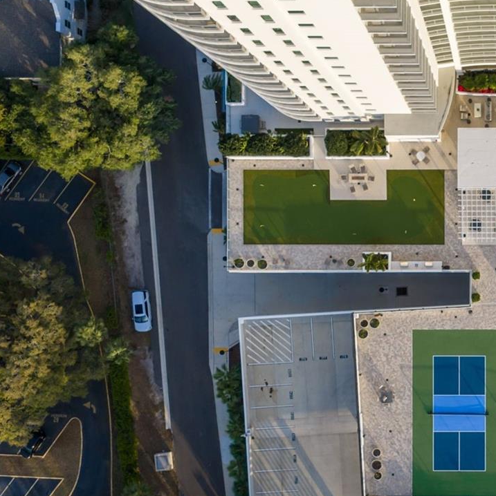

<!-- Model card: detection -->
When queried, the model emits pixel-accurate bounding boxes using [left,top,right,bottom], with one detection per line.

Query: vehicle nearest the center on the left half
[132,291,152,331]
